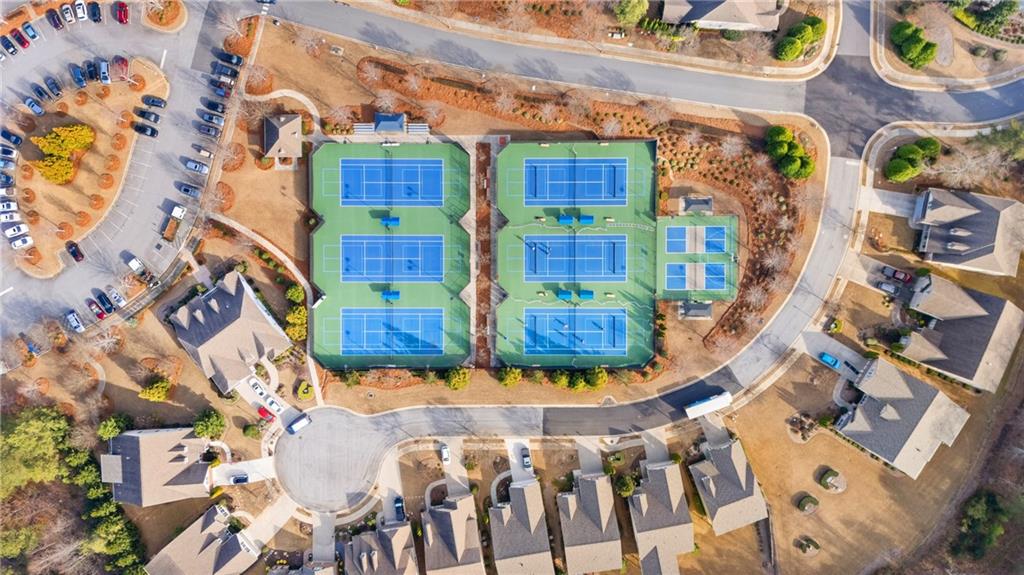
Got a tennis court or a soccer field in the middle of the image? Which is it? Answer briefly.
tennis court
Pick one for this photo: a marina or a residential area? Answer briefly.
residential area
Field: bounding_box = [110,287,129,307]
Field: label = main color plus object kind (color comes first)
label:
white car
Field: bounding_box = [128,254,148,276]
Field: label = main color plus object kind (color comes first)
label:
white vehicle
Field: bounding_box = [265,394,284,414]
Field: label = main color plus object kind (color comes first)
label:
white car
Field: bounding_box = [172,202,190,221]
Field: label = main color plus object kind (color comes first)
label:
white vehicle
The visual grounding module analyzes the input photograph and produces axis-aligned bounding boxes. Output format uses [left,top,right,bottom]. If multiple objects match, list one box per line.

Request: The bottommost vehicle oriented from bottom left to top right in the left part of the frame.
[287,414,313,434]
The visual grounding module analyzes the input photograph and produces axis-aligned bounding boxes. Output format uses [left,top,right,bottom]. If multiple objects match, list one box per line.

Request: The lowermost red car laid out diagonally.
[257,405,276,424]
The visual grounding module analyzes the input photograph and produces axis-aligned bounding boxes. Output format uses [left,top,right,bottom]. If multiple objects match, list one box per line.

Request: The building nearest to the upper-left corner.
[264,115,304,160]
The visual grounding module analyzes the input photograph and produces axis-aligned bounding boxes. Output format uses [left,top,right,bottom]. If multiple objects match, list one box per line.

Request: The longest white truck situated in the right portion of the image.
[677,389,730,418]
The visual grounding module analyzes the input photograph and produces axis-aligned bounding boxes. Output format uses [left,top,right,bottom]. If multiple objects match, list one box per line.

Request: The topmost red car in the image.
[117,3,130,25]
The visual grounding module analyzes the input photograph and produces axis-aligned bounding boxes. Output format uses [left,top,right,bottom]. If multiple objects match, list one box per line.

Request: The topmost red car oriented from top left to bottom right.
[12,29,31,49]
